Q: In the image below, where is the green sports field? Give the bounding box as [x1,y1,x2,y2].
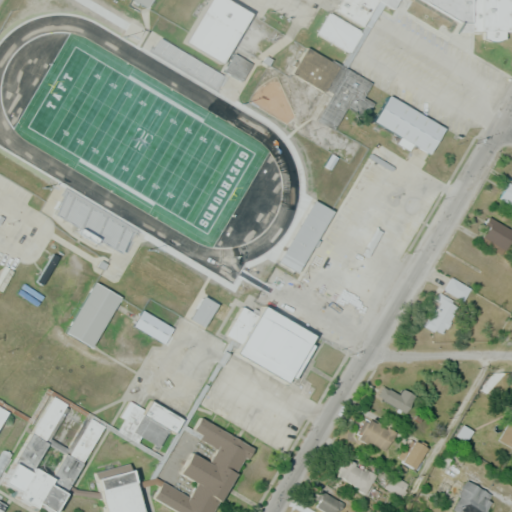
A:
[14,34,270,247]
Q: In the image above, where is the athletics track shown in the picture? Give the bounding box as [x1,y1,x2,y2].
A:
[0,14,307,269]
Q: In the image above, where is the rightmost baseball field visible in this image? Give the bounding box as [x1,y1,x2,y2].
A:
[251,78,298,124]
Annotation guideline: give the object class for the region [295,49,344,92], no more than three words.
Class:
building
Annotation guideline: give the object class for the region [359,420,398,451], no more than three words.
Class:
house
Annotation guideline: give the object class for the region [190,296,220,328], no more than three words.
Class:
building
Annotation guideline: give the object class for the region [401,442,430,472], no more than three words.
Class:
house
